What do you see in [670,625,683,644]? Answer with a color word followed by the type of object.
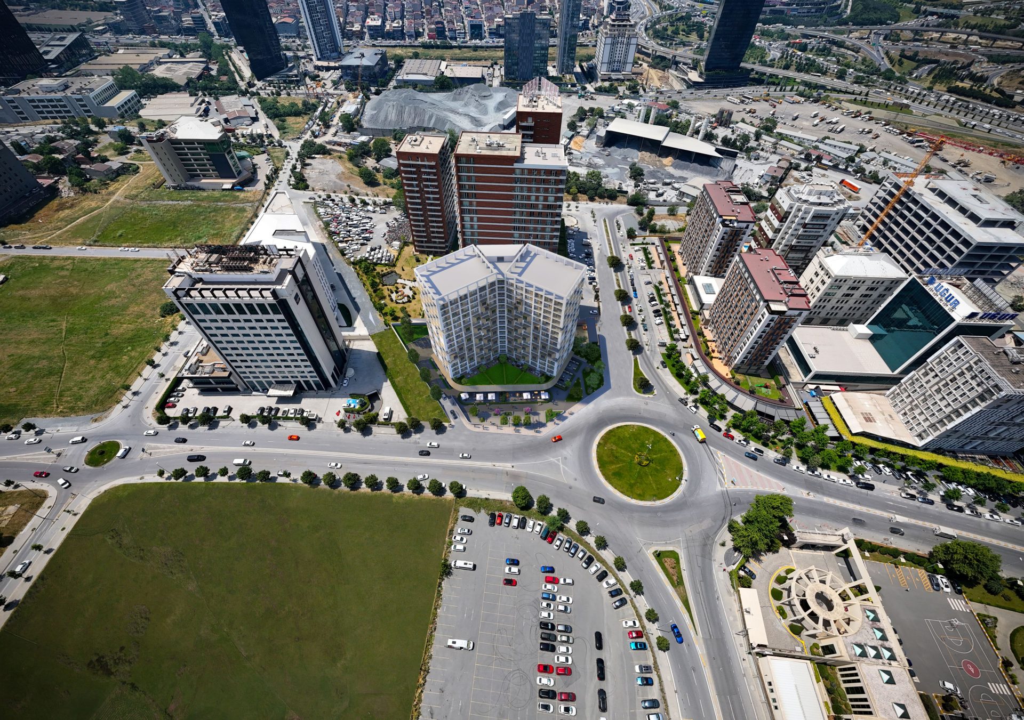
blue vehicle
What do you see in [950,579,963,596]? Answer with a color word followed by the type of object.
black vehicle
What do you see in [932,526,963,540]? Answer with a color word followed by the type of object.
white vehicle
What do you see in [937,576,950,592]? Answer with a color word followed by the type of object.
white vehicle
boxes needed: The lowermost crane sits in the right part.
[855,124,1024,248]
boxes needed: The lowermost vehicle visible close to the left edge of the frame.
[18,559,31,573]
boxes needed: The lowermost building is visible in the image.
[749,659,828,720]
